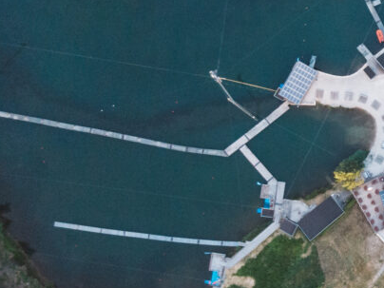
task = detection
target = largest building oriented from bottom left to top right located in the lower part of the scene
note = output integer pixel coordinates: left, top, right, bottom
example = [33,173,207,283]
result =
[297,195,345,240]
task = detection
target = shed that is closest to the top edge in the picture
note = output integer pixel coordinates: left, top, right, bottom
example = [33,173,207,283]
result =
[274,57,319,105]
